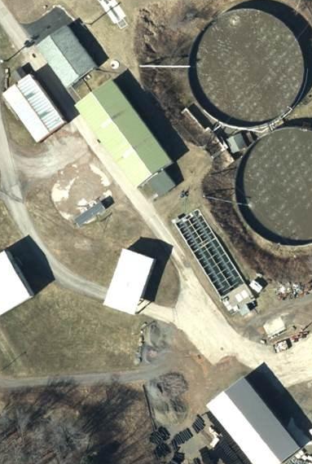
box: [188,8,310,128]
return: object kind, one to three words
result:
water tank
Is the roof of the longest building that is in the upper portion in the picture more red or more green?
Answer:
green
